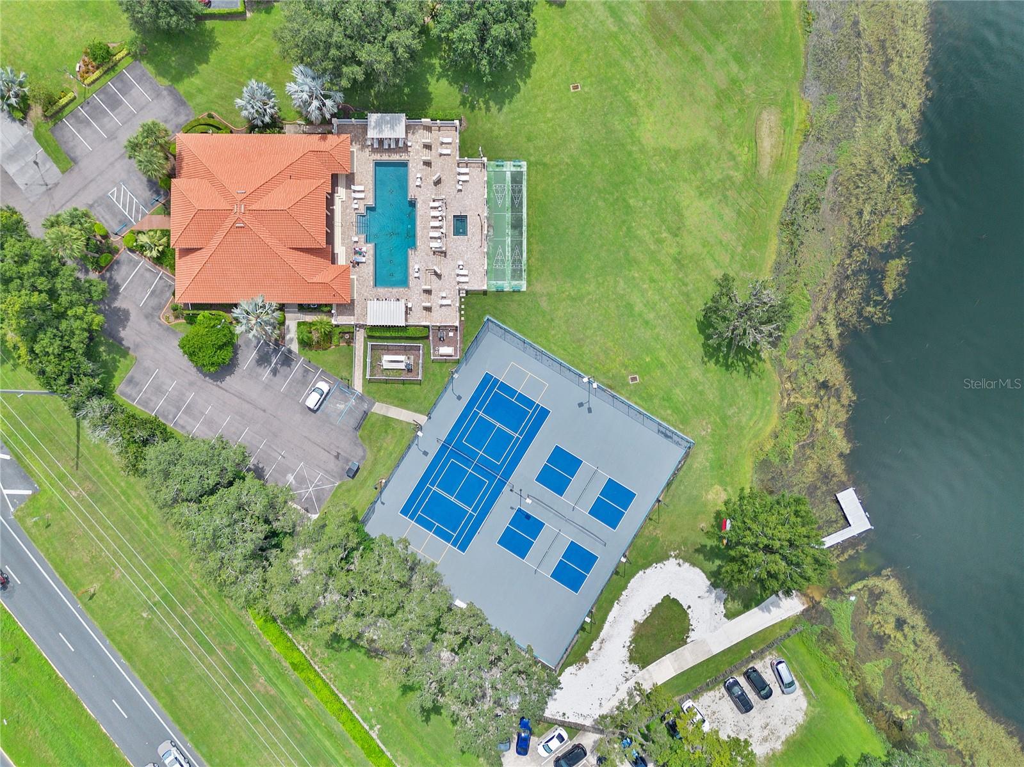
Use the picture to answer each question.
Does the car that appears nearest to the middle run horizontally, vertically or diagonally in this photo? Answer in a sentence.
What the image shows is the car that appears nearest to the middle lying diagonally.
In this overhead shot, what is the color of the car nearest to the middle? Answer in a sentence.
The car nearest to the middle is white.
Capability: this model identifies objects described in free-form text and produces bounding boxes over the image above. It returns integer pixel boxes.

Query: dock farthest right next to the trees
[821,486,875,547]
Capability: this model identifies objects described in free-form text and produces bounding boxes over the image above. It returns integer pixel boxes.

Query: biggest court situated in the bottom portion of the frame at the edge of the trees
[364,320,691,671]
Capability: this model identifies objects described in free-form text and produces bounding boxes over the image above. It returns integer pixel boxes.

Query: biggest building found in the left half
[170,132,356,303]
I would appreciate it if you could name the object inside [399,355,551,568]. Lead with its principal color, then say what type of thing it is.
blue tennis court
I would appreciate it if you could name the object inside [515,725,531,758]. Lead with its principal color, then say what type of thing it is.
blue car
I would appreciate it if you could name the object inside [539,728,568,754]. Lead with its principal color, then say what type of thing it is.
white car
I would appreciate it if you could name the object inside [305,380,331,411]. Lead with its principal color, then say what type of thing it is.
white car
